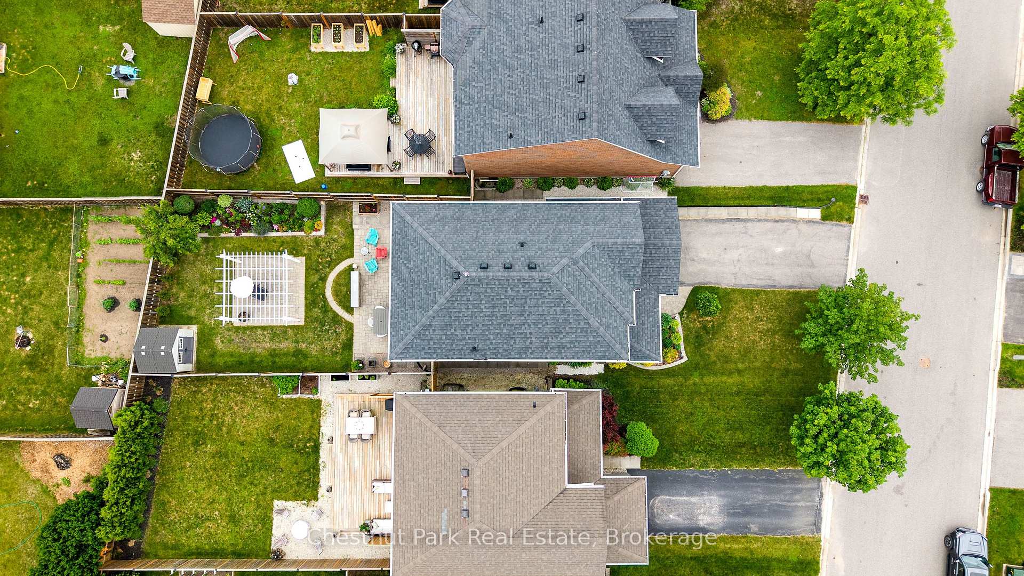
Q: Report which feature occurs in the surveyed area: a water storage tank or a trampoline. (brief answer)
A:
trampoline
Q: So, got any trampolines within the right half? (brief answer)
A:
No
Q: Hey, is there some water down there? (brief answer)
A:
No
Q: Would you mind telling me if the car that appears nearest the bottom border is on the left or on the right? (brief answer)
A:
right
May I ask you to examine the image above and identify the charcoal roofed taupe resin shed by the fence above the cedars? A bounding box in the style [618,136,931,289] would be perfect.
[69,388,125,430]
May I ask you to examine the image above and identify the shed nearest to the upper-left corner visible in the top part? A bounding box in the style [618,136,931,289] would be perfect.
[137,0,206,33]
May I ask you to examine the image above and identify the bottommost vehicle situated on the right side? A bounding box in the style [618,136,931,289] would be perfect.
[943,525,993,576]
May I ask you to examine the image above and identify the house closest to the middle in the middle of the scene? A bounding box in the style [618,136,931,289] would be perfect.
[389,194,688,363]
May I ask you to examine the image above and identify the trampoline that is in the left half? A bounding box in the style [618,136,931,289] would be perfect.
[188,104,268,177]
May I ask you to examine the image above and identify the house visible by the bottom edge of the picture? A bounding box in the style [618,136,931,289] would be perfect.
[390,387,650,576]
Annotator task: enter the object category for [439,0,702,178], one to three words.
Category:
house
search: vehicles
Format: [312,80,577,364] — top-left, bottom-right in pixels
[973,121,1022,214]
[943,525,993,576]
